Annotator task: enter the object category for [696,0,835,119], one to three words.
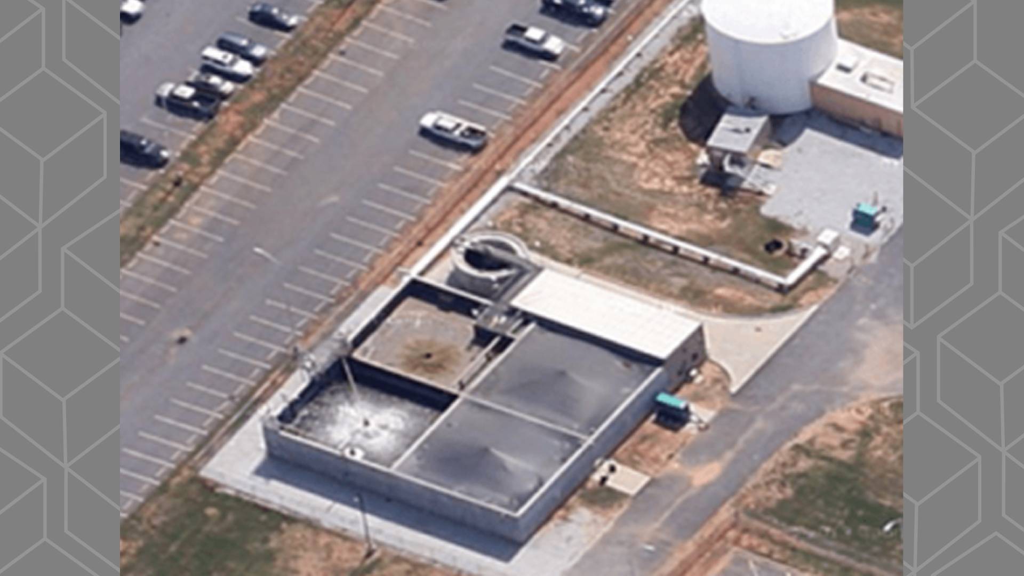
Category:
water tank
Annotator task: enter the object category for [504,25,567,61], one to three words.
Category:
truck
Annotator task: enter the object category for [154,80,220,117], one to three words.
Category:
truck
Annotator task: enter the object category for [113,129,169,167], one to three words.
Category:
car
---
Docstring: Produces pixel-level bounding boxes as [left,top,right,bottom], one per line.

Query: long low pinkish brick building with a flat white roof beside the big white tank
[811,42,1024,179]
